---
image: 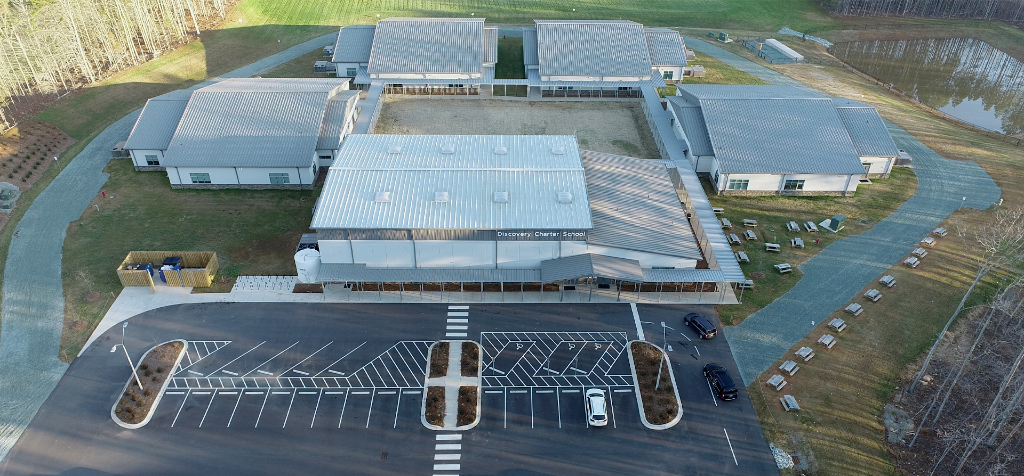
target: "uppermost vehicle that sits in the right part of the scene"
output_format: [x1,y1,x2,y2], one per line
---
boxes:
[682,310,722,342]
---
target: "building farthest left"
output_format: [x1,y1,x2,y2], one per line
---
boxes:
[122,80,362,190]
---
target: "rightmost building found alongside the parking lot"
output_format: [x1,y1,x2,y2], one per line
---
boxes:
[669,85,901,197]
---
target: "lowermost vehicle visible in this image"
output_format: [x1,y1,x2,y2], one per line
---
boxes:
[585,386,608,423]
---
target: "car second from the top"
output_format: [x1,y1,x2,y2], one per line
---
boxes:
[704,363,741,403]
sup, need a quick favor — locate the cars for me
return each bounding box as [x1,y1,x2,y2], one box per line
[704,363,741,403]
[682,310,722,342]
[585,386,608,423]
